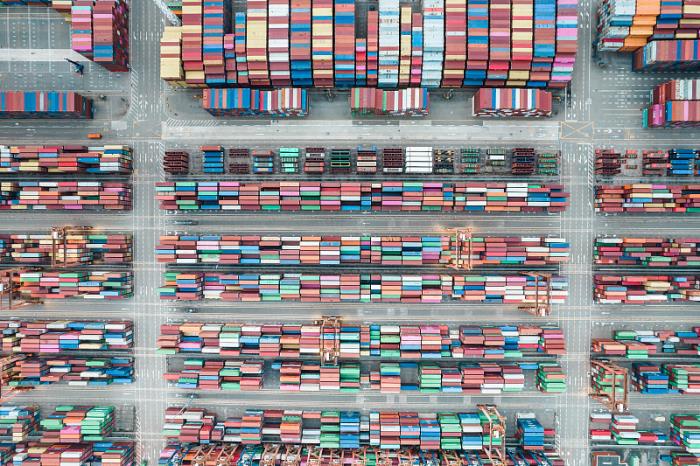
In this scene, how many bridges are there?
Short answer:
0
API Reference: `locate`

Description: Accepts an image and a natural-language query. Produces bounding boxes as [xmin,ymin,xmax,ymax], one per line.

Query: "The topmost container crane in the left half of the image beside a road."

[51,223,88,270]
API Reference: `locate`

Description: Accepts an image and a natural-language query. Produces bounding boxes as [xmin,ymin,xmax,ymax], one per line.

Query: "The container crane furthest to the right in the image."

[587,355,623,409]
